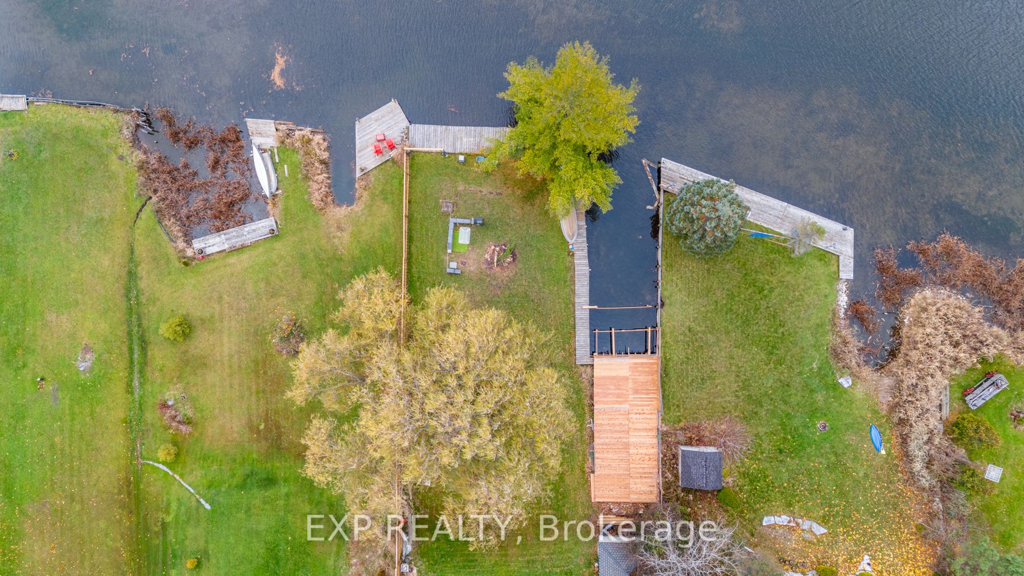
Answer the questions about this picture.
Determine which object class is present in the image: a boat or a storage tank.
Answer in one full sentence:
Looking from above, you can make out a boat.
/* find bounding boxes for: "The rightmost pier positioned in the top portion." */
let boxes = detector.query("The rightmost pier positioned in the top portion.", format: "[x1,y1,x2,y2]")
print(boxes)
[661,158,854,279]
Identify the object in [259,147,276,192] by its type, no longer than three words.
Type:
boat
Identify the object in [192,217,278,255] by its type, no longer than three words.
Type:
pier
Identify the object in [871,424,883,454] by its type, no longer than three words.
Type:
boat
